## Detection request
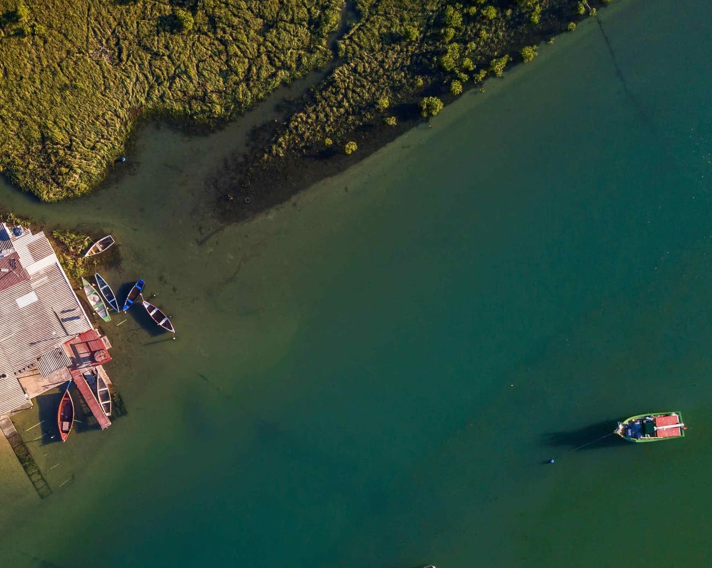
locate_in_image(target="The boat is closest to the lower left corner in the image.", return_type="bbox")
[58,390,74,440]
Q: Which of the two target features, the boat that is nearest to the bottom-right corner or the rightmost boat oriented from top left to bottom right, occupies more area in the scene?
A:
the boat that is nearest to the bottom-right corner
